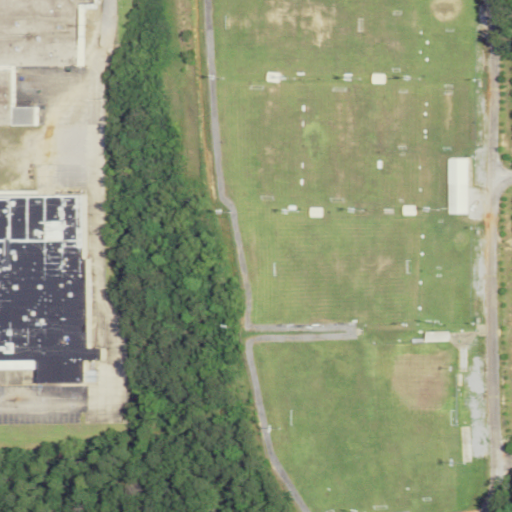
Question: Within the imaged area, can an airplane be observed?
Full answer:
No, I can't see a single airplane in this photo.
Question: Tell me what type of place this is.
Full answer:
The area seen from above is a sports ground.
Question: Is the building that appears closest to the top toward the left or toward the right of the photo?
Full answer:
It is on the left.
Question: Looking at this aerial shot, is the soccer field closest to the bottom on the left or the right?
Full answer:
The soccer field closest to the bottom is on the right side of the image.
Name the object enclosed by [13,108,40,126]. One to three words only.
building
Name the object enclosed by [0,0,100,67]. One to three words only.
building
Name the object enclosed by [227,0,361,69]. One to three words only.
soccer field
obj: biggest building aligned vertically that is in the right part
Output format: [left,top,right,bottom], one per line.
[450,157,475,214]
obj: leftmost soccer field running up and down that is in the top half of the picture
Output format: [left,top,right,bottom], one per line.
[248,87,300,199]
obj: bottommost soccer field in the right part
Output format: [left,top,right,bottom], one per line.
[291,346,453,498]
